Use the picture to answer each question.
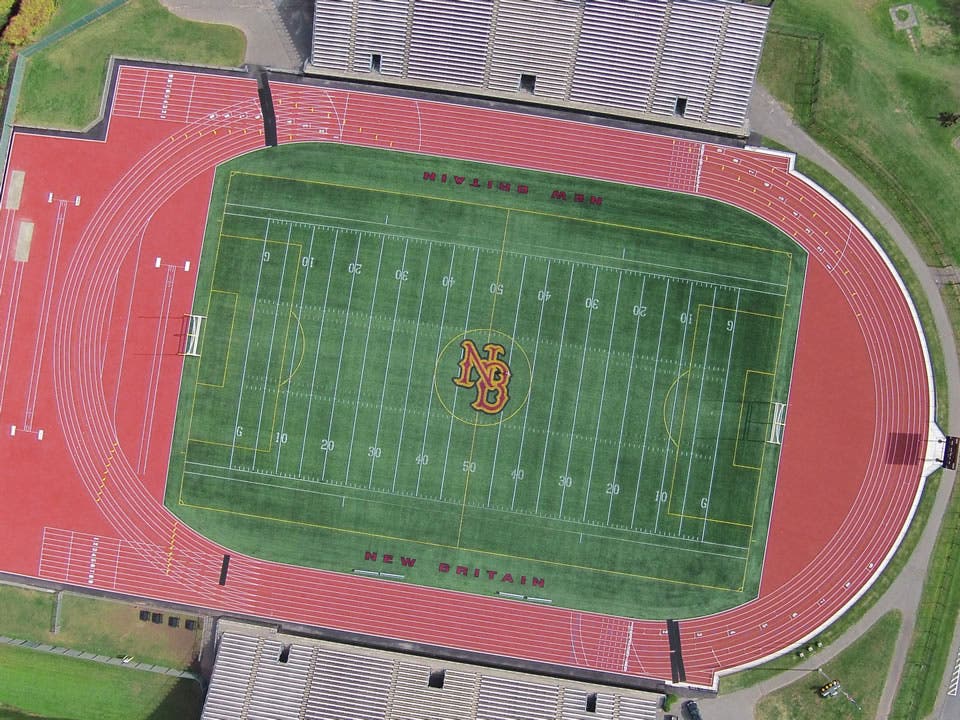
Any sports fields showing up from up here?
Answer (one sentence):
Yes, there is a sports field in the image.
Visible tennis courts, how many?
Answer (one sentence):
The picture shows no tennis courts.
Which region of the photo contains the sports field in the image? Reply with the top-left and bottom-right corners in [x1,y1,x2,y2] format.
[163,140,809,622]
